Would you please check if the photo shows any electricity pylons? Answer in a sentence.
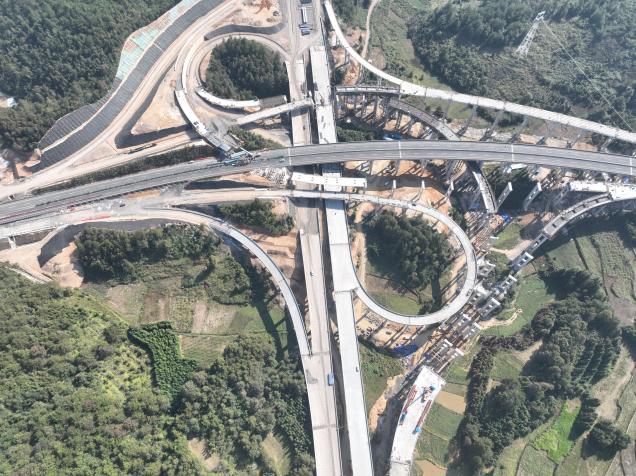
Yes, the image includes an electricity pylon.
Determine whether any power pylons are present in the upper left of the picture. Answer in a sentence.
No, the scene shows no power pylon in the upper left of the picture.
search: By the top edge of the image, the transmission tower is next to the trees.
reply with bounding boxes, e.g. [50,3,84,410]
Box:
[516,10,546,58]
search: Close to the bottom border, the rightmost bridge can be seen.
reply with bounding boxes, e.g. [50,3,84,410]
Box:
[388,366,445,476]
